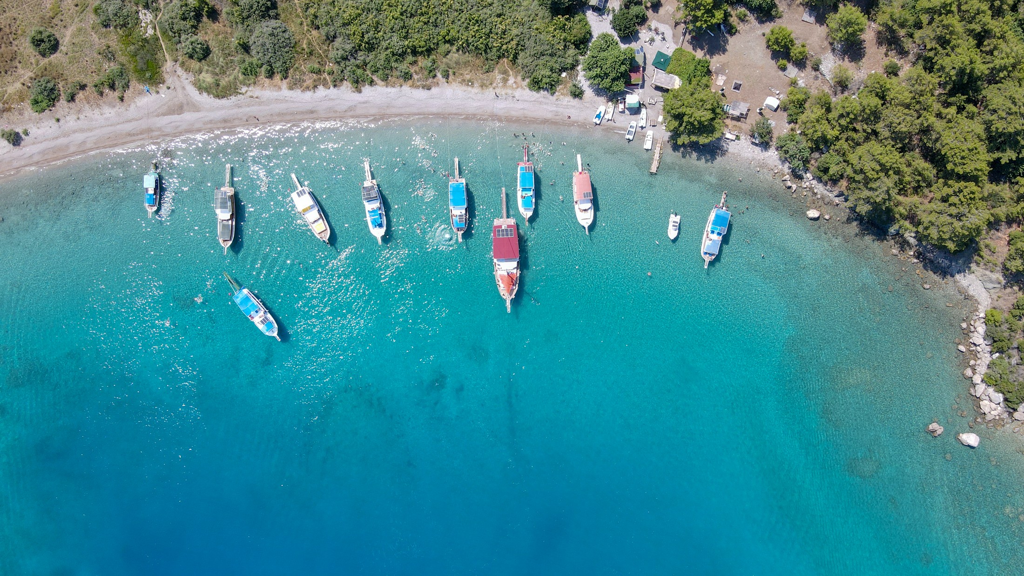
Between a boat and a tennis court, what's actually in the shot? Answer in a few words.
boat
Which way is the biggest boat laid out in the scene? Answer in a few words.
vertically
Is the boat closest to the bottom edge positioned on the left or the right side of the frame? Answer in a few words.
left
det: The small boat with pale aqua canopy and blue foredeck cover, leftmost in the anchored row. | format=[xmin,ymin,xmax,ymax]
[143,163,162,218]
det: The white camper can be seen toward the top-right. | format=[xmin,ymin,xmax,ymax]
[762,96,779,111]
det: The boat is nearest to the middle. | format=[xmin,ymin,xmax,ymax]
[492,187,521,312]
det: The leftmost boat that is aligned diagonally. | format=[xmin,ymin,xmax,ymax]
[224,271,281,341]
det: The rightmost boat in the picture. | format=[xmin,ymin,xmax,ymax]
[702,191,731,268]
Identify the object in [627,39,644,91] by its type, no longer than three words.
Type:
shed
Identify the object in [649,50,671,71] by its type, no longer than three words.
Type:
gazebo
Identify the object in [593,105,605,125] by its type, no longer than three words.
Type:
boat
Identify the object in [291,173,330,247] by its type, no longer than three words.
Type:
boat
